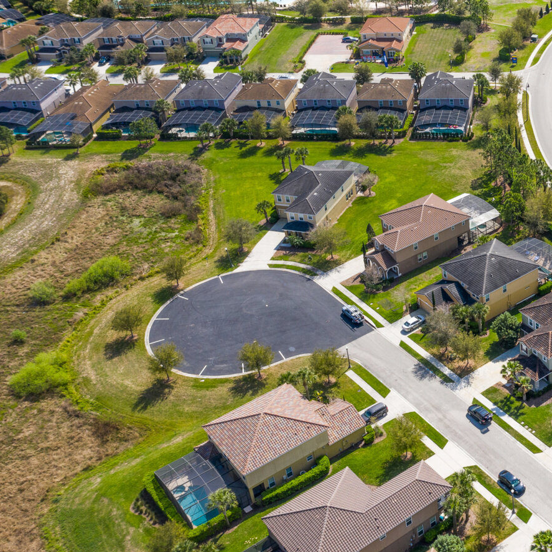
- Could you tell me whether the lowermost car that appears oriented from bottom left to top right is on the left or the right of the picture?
right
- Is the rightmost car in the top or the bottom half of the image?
bottom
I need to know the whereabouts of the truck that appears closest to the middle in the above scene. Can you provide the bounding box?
[341,303,366,324]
